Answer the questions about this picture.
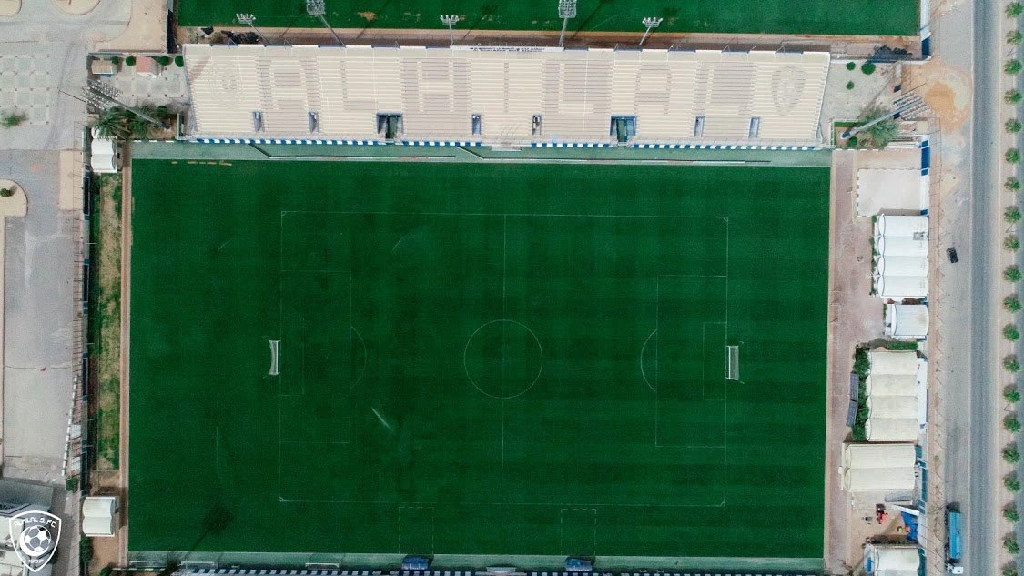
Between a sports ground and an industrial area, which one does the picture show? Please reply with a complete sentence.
It's a sports ground.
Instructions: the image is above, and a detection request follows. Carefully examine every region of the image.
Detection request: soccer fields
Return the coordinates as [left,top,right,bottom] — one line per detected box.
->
[179,0,920,35]
[128,161,831,558]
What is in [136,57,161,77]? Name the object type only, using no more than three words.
building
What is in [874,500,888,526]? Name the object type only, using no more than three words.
work vehicle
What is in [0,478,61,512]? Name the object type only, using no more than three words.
building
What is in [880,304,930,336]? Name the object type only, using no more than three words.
tent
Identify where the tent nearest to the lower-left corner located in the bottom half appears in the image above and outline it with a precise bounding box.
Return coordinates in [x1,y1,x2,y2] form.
[81,495,124,537]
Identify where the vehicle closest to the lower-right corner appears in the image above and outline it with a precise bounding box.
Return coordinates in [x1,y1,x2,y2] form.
[943,502,964,575]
